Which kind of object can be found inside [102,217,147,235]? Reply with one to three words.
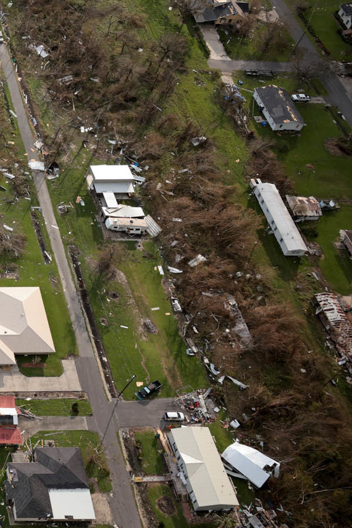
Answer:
camper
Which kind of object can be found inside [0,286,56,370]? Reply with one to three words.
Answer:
house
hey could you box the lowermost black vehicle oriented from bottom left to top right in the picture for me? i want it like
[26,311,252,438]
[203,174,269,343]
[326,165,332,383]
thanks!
[139,381,162,398]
